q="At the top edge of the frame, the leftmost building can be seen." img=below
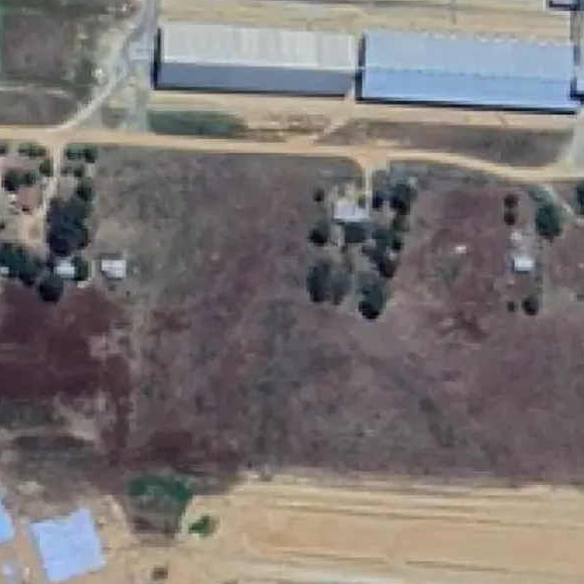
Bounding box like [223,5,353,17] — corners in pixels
[155,23,357,94]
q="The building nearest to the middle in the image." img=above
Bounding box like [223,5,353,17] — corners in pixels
[334,201,369,221]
